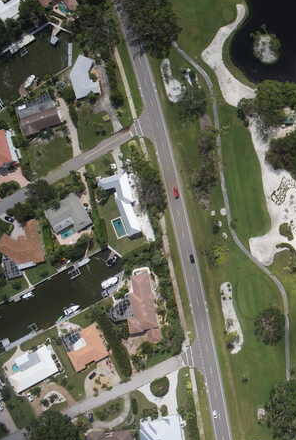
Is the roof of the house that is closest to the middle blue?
No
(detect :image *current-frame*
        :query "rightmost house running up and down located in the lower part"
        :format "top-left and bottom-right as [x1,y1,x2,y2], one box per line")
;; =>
[129,272,163,341]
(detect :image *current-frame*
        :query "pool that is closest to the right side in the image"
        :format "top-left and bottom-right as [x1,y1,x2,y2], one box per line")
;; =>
[111,215,129,240]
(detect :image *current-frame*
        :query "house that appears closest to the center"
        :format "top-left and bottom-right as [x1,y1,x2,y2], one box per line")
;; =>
[97,172,142,236]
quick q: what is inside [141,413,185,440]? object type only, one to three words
house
